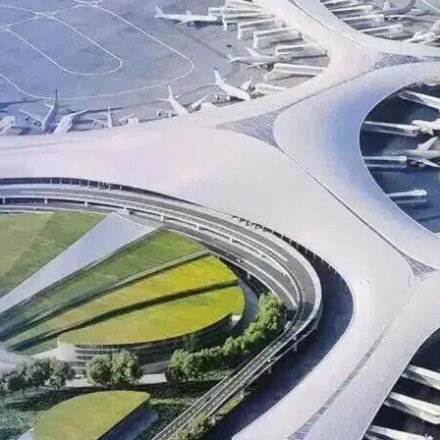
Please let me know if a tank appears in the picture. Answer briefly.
No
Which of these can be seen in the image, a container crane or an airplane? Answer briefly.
airplane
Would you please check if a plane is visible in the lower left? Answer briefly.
No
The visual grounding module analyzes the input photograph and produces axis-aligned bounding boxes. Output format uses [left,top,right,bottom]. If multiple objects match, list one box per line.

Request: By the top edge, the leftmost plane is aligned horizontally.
[156,6,222,23]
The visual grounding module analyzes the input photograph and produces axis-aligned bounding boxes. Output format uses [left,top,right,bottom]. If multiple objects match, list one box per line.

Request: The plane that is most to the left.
[27,97,76,133]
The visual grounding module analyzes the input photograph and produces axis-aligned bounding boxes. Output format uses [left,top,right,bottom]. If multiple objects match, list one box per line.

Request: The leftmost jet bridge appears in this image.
[0,118,16,136]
